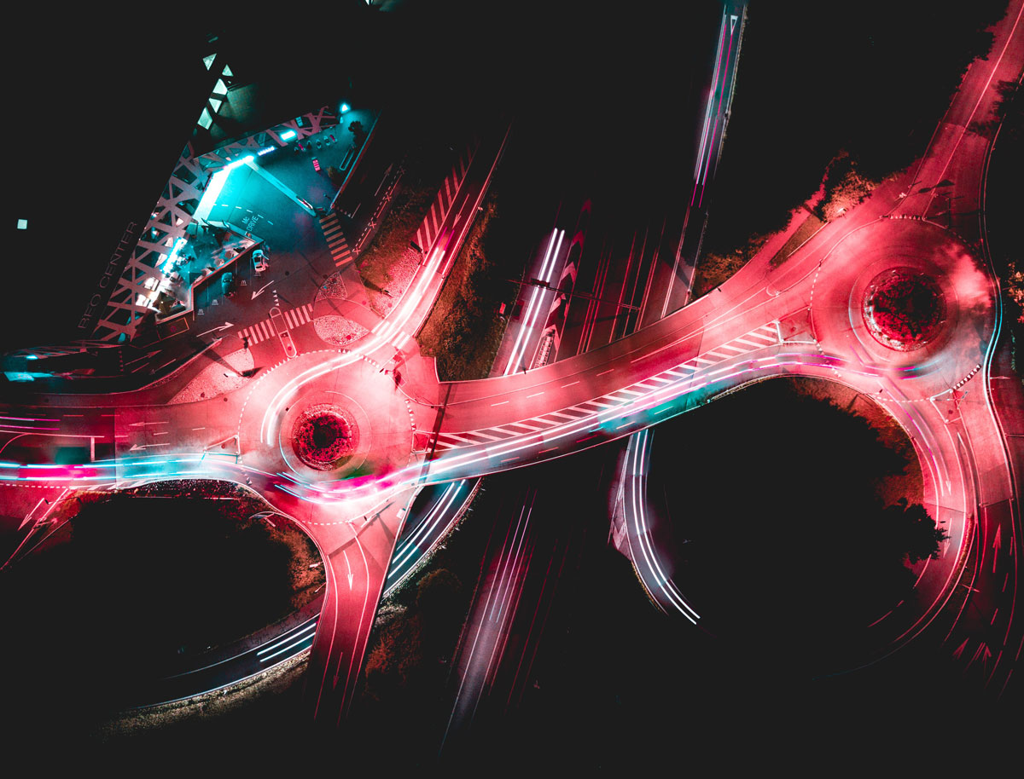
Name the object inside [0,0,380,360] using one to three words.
building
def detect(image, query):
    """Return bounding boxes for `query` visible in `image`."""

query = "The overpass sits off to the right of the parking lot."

[431,274,735,485]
